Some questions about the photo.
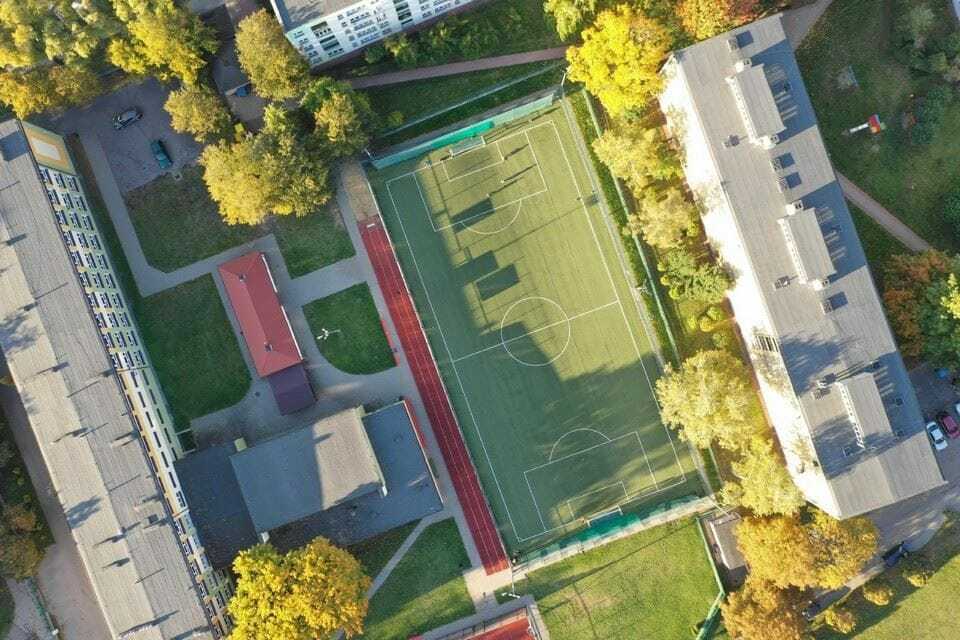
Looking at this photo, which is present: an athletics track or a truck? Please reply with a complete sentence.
The image shows an athletics track.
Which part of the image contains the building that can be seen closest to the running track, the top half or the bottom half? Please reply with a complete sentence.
Seen from above, the building that can be seen closest to the running track lies in the bottom half of the view.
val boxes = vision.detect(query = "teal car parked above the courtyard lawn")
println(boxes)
[150,139,173,169]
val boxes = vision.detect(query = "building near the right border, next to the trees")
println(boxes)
[653,13,946,519]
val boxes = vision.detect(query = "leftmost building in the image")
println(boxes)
[0,113,250,640]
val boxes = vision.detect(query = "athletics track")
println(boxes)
[357,216,510,575]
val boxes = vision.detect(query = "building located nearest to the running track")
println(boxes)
[172,396,444,571]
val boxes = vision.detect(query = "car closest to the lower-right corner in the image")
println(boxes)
[878,538,911,565]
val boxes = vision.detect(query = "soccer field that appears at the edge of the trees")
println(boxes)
[366,98,715,569]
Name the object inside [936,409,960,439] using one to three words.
car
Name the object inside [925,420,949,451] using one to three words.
car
